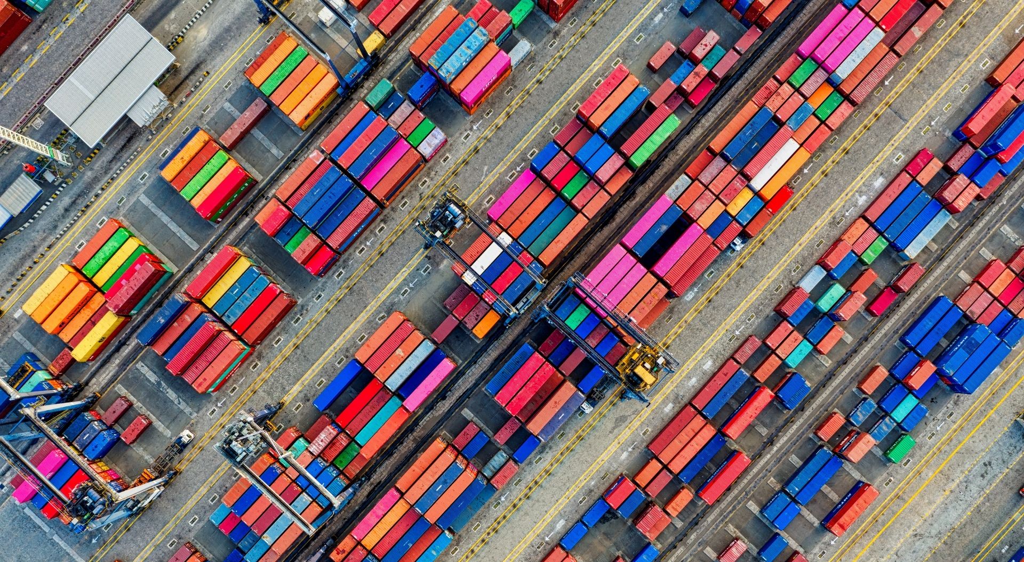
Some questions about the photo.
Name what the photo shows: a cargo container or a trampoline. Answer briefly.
cargo container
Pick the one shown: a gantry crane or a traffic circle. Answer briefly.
gantry crane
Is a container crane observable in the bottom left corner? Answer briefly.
Yes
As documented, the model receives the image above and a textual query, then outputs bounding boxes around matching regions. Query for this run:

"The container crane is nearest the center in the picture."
[409,183,549,325]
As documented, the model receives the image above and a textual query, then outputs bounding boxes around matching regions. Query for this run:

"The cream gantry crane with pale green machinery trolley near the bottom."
[204,394,373,541]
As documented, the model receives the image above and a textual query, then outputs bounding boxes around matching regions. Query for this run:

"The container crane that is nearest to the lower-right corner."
[532,274,688,415]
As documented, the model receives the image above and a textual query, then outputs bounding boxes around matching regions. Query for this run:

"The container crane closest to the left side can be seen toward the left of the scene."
[0,361,90,424]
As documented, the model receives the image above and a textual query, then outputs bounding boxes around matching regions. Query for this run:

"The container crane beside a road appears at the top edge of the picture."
[256,0,384,100]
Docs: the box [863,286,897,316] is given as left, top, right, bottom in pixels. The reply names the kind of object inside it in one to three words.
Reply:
shipping container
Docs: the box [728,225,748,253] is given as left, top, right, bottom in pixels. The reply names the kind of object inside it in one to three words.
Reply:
vehicle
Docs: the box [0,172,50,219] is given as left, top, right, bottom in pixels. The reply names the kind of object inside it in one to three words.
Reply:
building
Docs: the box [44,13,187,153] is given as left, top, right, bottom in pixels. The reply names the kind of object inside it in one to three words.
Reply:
shed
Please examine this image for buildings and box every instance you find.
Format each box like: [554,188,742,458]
[44,13,187,153]
[0,172,50,219]
[41,168,62,185]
